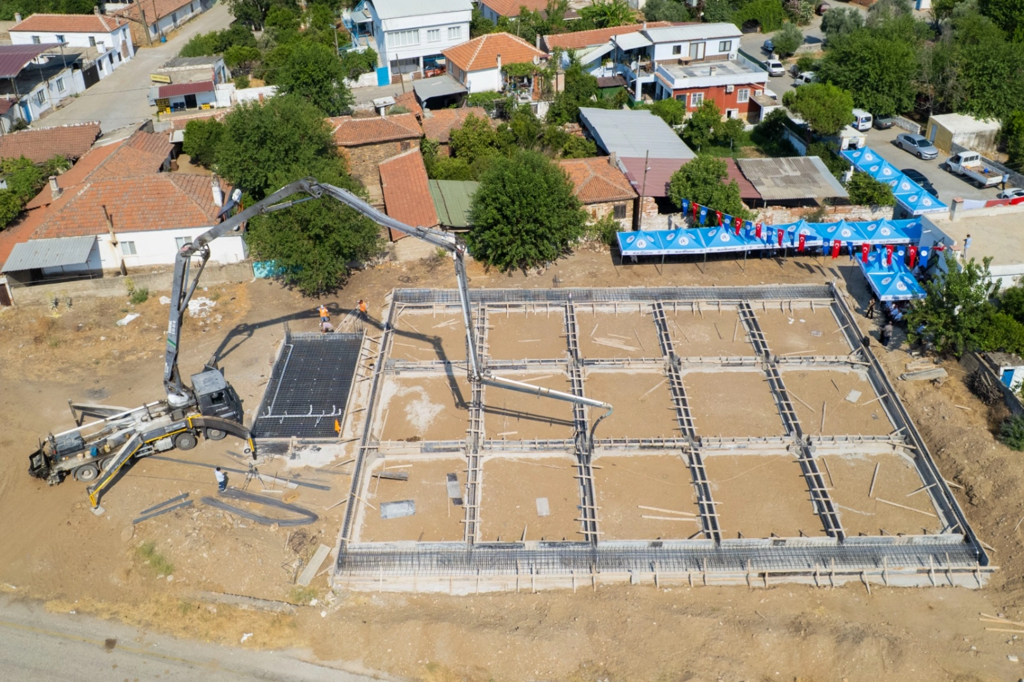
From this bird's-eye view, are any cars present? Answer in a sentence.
Yes, looking at the shot, I can spot a car.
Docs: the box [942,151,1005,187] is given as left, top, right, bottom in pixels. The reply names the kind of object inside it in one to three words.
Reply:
truck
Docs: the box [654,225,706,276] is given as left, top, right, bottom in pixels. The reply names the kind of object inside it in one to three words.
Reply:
tent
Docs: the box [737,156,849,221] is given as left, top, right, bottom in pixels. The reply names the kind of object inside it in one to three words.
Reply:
shed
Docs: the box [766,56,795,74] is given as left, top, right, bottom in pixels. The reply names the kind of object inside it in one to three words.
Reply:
car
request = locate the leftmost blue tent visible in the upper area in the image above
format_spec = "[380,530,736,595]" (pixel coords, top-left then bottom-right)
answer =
[613,227,664,278]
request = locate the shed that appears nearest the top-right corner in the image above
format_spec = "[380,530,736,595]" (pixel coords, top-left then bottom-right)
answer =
[927,105,1008,154]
